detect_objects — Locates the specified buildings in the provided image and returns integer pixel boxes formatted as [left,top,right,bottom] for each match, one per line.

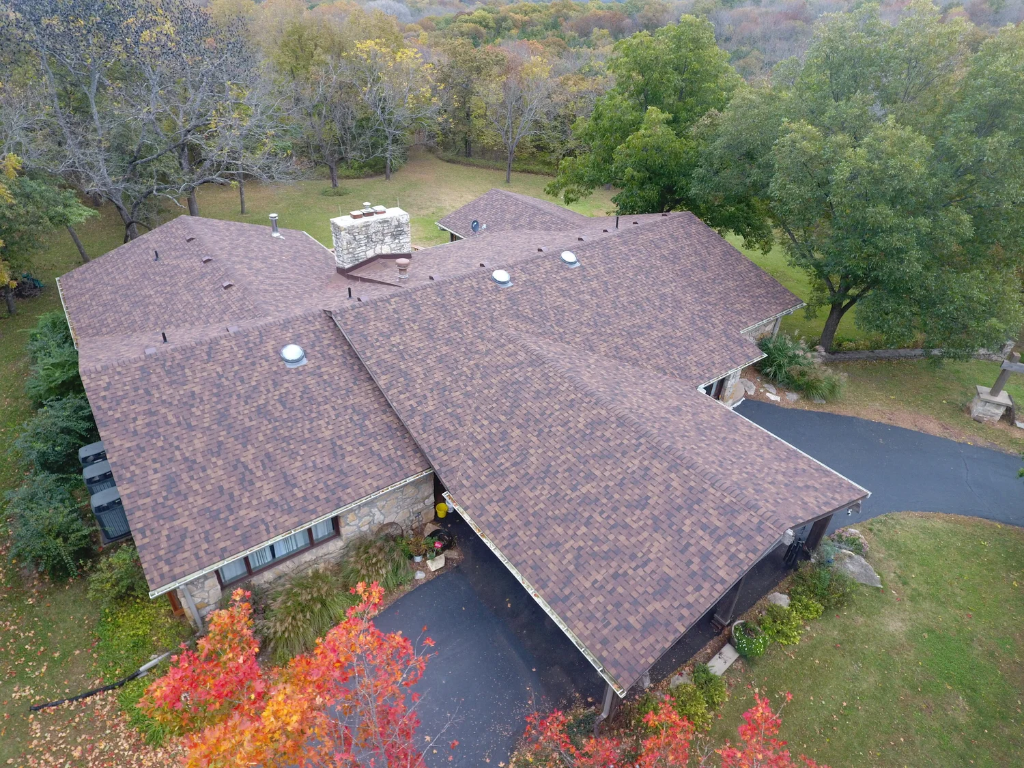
[55,185,874,763]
